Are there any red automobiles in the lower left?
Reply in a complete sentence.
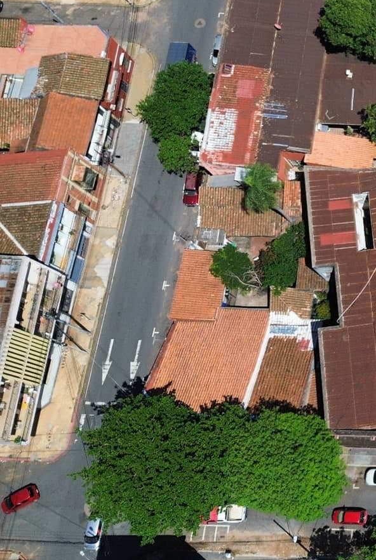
Yes, a red automobile can be seen in the lower left.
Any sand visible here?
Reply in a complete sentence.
No, sand can't be seen anywhere here.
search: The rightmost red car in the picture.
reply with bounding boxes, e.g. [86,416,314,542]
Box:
[331,506,368,528]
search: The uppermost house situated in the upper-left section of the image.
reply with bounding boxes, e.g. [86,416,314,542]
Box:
[0,17,130,113]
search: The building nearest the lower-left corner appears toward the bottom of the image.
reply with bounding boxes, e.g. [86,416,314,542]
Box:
[0,256,80,433]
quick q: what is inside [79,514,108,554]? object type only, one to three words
car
